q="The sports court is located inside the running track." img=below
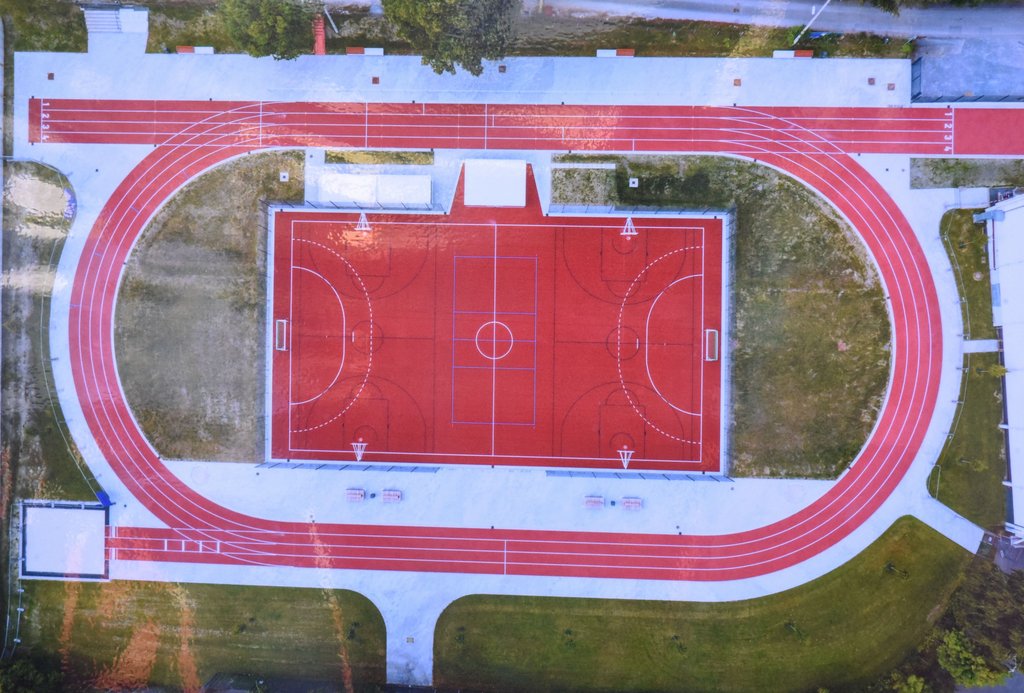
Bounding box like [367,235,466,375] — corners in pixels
[265,163,729,477]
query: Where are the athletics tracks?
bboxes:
[28,98,1024,581]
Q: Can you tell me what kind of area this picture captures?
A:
sports ground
